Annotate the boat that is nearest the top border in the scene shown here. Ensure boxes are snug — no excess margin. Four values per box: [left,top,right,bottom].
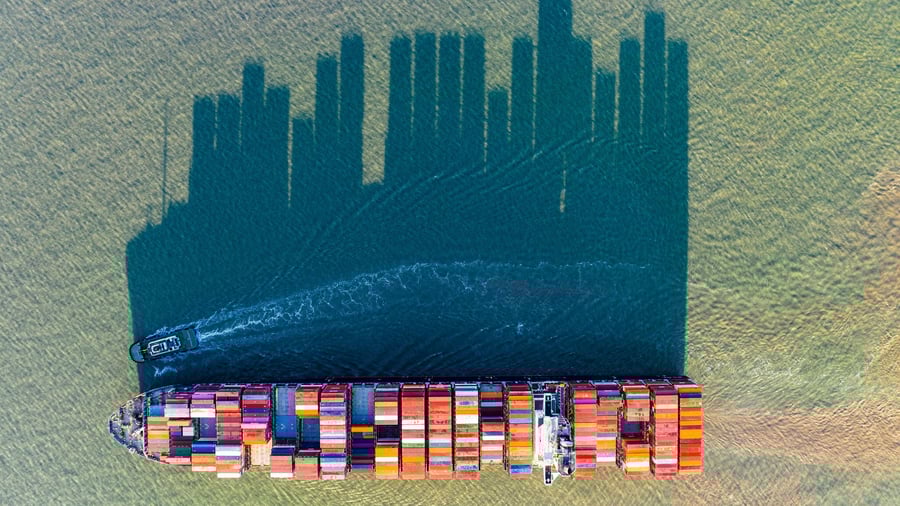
[129,326,200,360]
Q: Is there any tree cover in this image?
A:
No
